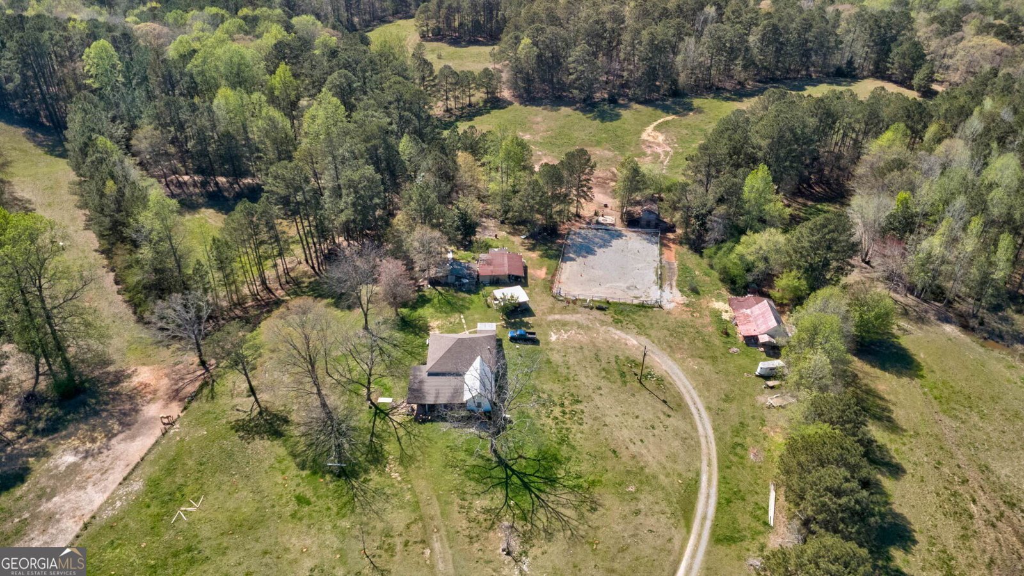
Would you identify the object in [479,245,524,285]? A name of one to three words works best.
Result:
shed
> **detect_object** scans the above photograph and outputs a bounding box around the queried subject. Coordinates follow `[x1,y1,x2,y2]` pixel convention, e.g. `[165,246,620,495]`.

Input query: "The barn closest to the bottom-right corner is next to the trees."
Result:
[727,297,787,349]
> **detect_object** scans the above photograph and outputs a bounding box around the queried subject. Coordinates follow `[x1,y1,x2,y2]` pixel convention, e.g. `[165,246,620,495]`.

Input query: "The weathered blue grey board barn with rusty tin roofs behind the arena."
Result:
[624,196,676,229]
